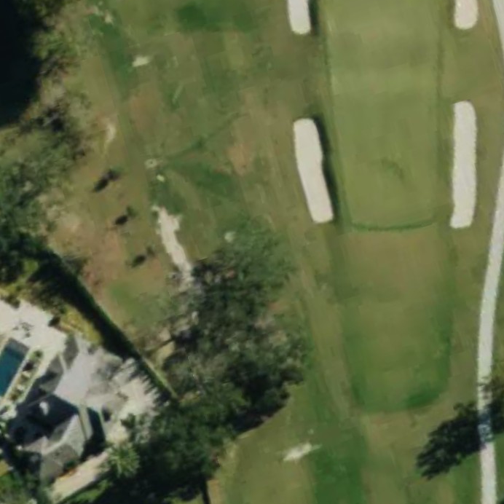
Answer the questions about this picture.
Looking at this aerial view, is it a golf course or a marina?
golf course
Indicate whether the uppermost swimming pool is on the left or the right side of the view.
left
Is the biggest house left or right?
left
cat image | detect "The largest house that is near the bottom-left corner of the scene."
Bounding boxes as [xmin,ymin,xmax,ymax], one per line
[6,339,118,502]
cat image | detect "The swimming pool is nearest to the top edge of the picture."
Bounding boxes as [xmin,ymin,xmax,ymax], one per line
[0,336,33,400]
